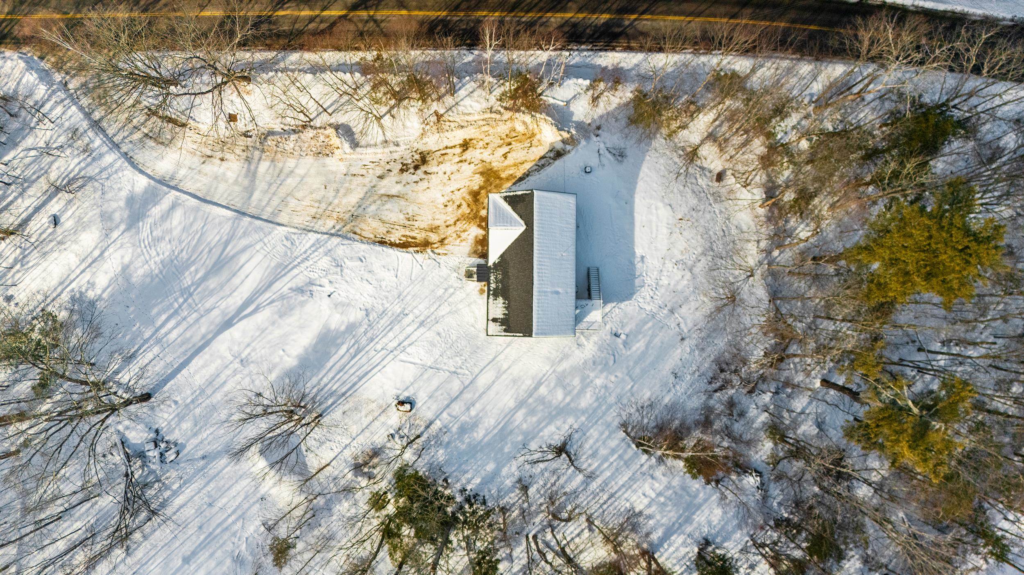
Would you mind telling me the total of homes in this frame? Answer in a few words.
1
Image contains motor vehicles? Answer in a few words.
No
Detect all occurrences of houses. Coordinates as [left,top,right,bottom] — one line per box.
[458,189,577,340]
